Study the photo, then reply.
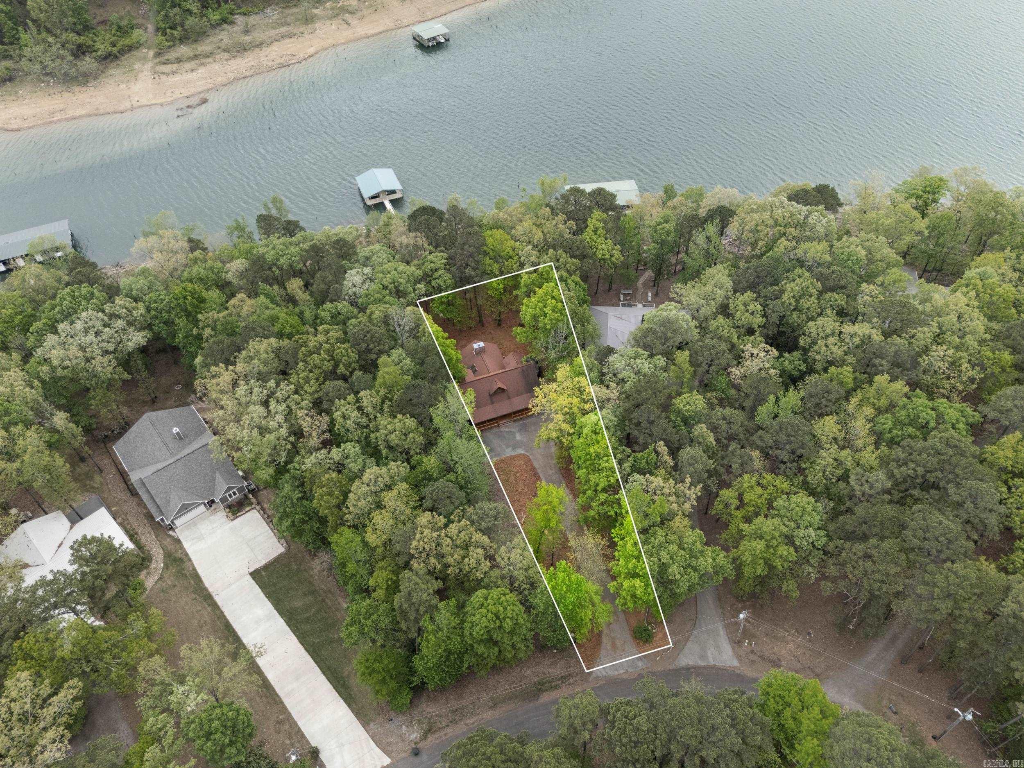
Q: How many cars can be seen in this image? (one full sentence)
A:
The count of cars is 0.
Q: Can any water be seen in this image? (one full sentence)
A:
Yes, some water is visible.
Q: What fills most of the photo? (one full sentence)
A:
The largest share of the image is taken up by trees.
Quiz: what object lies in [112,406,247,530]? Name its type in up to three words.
house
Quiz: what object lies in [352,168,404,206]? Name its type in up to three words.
pier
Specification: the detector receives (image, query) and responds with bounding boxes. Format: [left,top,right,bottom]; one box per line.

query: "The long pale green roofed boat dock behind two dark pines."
[585,179,646,214]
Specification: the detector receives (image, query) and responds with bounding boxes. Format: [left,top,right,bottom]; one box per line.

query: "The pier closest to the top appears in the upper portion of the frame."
[409,22,451,48]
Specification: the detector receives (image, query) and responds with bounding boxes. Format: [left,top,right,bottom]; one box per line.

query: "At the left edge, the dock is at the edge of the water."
[0,219,75,268]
